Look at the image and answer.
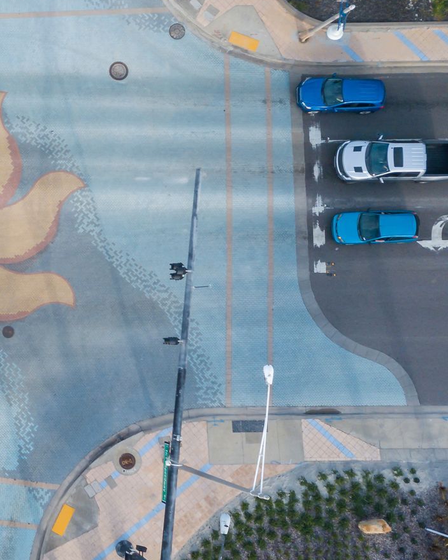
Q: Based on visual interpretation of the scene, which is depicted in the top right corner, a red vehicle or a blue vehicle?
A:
blue vehicle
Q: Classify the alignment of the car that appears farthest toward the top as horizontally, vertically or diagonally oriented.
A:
horizontally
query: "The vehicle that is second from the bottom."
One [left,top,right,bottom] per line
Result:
[331,134,448,186]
